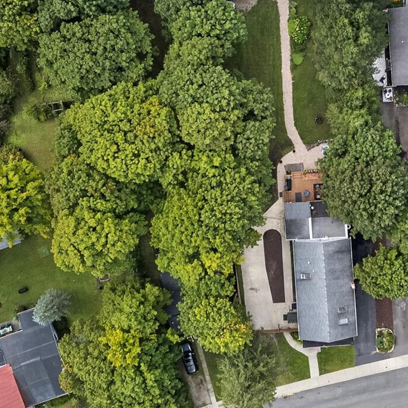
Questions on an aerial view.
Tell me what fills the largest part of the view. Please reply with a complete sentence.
The scene is dominated by trees.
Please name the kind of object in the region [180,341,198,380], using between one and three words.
vehicle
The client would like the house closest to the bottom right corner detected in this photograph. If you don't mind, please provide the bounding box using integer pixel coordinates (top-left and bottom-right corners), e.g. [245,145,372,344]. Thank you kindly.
[285,201,357,350]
